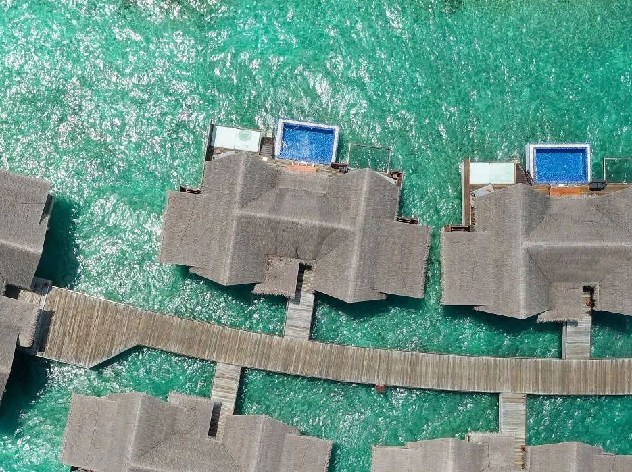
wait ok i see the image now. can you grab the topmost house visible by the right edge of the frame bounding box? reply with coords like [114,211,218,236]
[436,155,632,324]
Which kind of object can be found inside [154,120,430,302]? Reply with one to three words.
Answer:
house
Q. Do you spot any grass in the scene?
No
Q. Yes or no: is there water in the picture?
Yes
